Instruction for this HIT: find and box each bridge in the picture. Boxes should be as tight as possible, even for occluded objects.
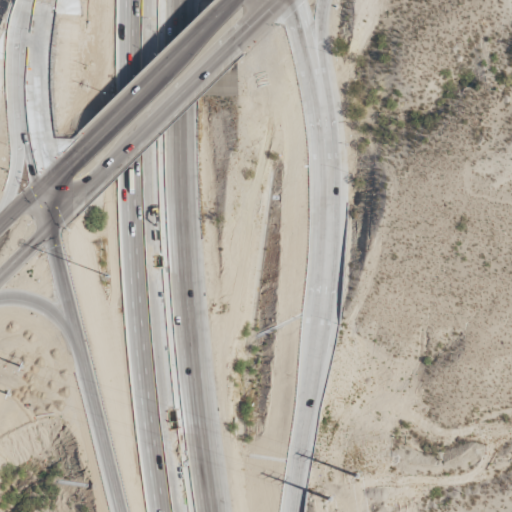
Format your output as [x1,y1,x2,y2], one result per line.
[84,0,243,188]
